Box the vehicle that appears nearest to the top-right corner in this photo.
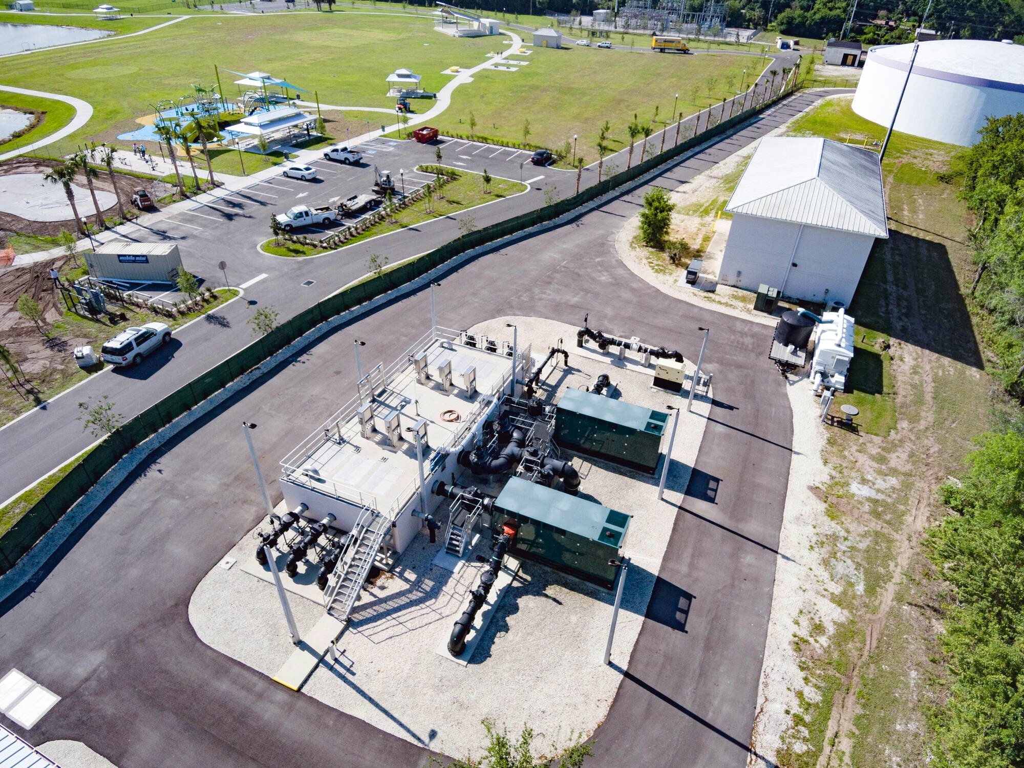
[655,35,692,54]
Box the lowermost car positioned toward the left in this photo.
[103,323,178,363]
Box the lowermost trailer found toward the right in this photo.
[768,325,812,380]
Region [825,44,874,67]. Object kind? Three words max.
shed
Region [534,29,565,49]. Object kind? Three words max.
building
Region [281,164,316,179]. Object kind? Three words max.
car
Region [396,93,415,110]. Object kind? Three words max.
work vehicle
